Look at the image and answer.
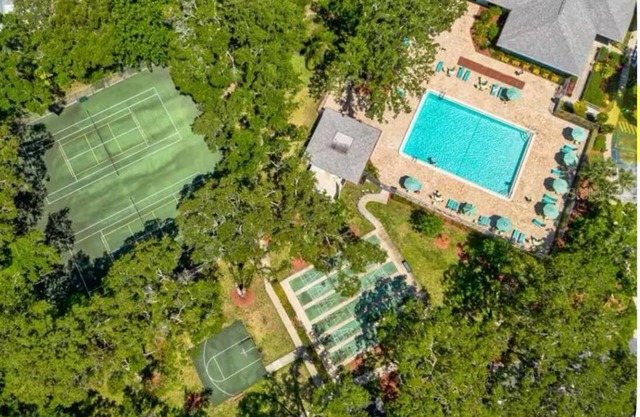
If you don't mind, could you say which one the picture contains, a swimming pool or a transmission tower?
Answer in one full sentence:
There is a swimming pool in the scene.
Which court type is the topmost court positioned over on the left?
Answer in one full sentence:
The topmost court positioned over on the left appears to be a tennis court.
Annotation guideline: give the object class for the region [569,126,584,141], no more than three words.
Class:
umbrella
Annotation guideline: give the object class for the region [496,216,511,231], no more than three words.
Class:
umbrella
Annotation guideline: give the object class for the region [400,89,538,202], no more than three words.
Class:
swimming pool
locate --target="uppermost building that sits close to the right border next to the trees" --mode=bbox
[470,0,640,78]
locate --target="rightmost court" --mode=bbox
[612,126,640,171]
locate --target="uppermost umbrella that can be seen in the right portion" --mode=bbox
[504,86,519,101]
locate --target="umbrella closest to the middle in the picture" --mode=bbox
[404,176,420,192]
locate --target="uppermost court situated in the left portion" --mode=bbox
[11,55,221,224]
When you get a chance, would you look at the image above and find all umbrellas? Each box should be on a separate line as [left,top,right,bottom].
[569,126,584,141]
[551,178,567,193]
[404,176,420,192]
[496,216,511,231]
[543,204,558,218]
[562,151,576,165]
[504,86,519,101]
[462,203,476,216]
